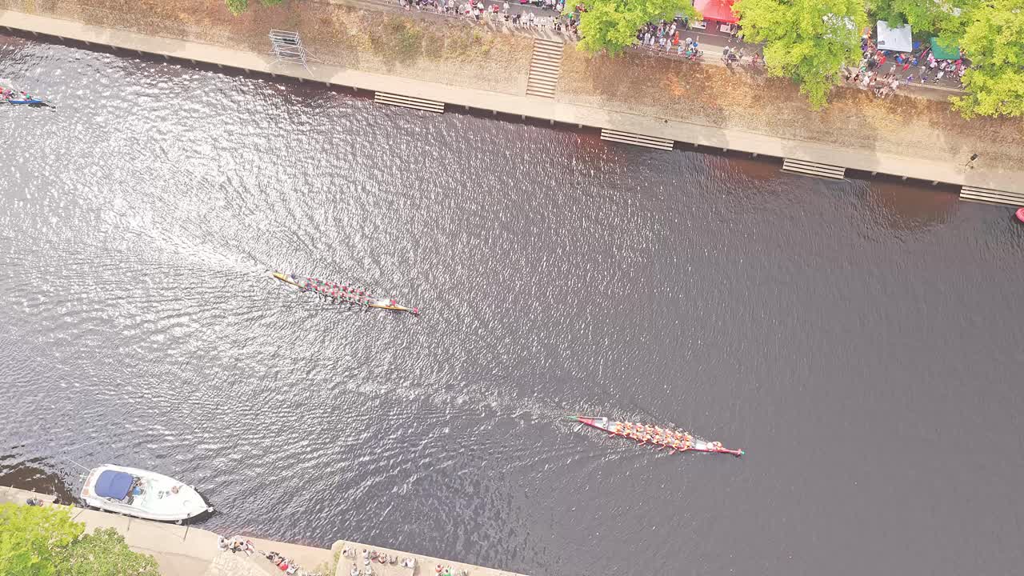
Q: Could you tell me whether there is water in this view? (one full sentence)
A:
Yes, some water is visible.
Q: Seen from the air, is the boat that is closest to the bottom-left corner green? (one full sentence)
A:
No, the color of the boat that is closest to the bottom-left corner is white.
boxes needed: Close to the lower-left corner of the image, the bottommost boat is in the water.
[69,429,215,525]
